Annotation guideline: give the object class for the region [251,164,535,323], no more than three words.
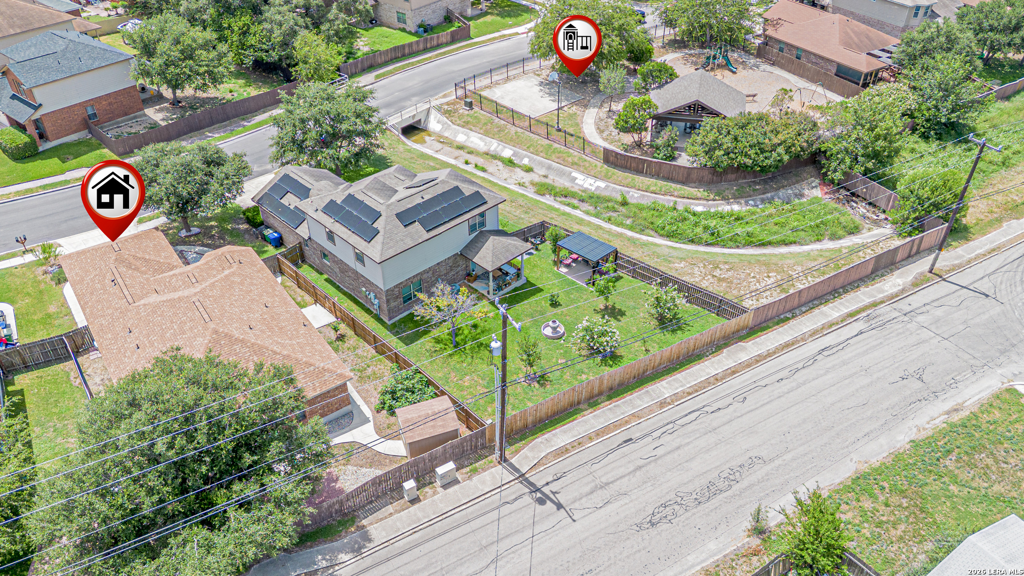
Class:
house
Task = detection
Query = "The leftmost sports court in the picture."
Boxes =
[480,73,585,118]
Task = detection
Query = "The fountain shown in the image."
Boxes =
[542,318,564,337]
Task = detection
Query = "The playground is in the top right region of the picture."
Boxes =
[667,52,839,126]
